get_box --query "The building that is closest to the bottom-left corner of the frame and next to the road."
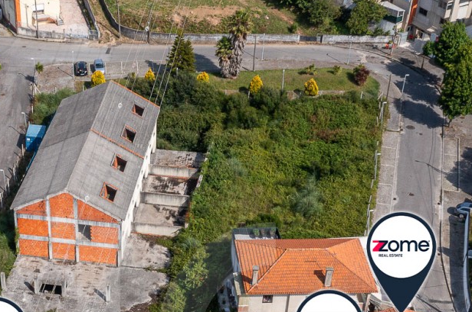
[12,79,161,265]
